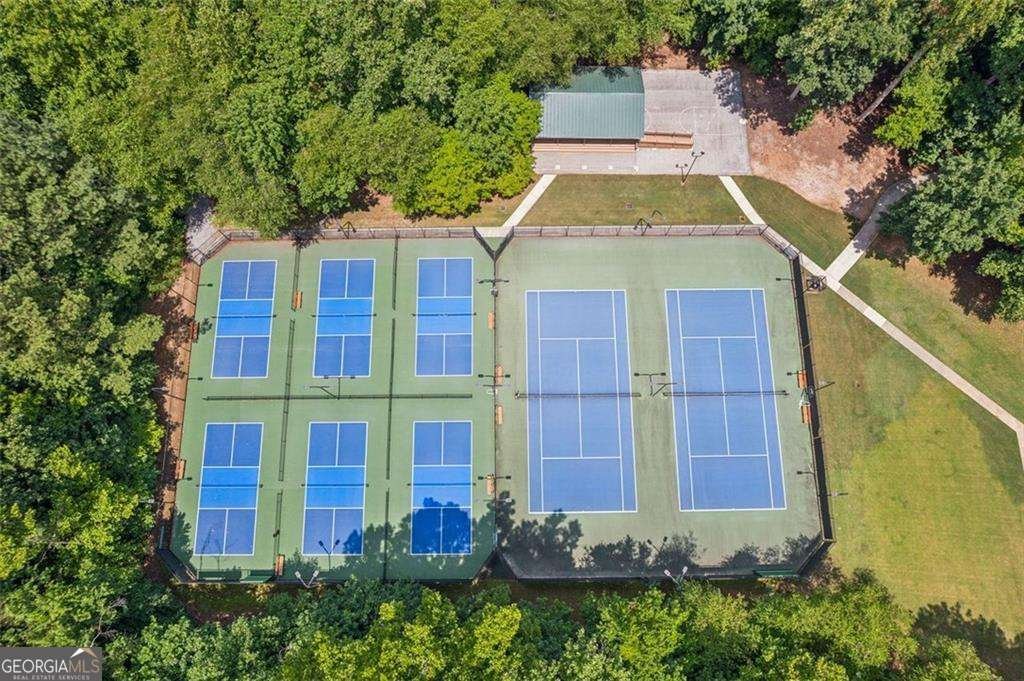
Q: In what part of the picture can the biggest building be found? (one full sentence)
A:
Look in the top portion of the view to spot the biggest building.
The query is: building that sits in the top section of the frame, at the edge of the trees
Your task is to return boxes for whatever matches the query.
[532,67,644,146]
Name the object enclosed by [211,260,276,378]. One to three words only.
sports court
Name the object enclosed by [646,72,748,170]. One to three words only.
basketball court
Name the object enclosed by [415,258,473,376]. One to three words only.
sports court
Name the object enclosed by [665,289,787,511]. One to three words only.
tennis court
